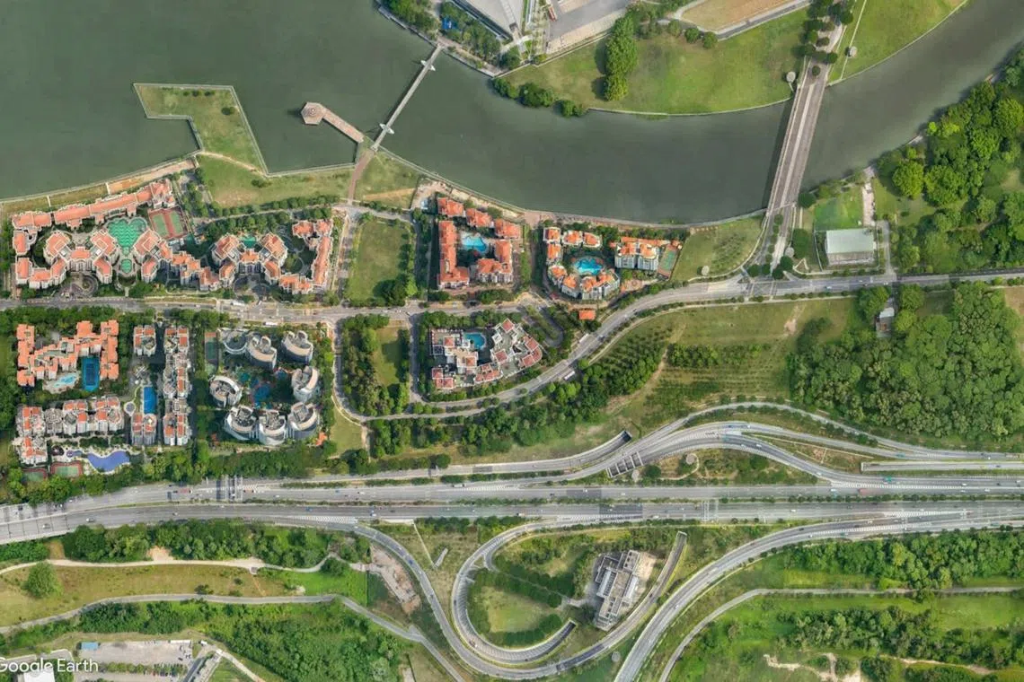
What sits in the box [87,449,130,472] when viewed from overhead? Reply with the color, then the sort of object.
blue swimming pool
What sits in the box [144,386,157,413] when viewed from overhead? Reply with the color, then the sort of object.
blue swimming pool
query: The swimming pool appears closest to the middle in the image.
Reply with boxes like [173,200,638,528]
[464,331,486,350]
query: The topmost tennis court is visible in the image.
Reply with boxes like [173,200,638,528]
[148,208,186,239]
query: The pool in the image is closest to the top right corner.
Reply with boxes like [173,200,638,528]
[574,256,605,277]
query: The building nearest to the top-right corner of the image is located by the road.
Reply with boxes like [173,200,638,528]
[826,229,876,270]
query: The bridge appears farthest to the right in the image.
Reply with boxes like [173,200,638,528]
[766,82,829,217]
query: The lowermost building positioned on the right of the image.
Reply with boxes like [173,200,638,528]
[594,551,639,631]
